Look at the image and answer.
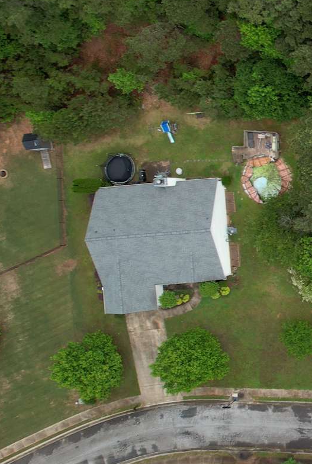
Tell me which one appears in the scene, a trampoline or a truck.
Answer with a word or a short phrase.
trampoline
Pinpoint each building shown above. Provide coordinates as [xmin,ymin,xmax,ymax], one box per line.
[16,137,49,168]
[89,176,231,313]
